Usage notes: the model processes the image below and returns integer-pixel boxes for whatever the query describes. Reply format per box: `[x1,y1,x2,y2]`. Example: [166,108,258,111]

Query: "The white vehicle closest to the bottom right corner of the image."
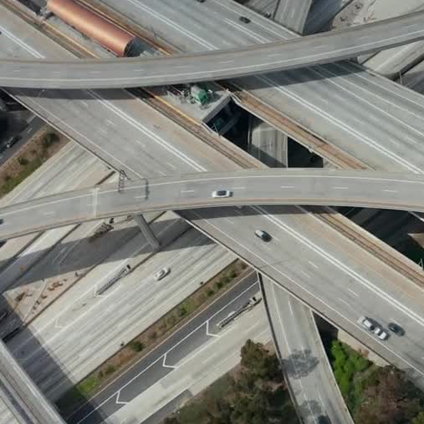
[372,326,391,341]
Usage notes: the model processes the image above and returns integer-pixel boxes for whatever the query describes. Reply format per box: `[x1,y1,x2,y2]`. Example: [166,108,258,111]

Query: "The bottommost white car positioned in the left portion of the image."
[154,267,170,281]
